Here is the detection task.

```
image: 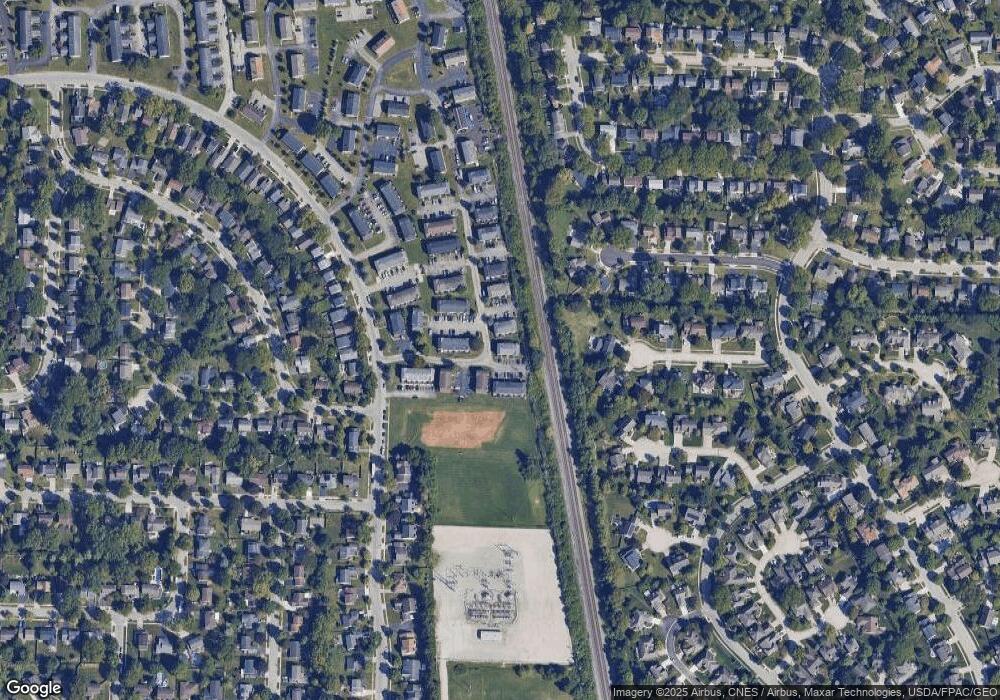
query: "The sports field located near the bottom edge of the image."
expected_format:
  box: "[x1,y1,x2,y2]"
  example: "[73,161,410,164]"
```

[447,664,580,700]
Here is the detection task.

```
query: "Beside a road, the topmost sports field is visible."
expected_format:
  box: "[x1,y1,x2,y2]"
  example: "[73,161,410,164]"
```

[388,398,537,452]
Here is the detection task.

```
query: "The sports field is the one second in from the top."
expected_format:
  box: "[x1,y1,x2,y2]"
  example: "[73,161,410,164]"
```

[433,447,546,526]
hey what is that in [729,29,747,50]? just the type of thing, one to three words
house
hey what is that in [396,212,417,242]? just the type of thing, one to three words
building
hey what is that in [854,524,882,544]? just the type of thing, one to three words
house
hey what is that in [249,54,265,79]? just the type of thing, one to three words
building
